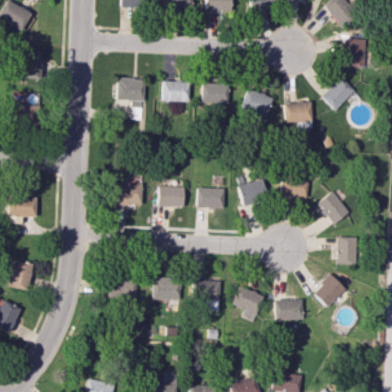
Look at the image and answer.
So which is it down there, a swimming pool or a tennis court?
swimming pool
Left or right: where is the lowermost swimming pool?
right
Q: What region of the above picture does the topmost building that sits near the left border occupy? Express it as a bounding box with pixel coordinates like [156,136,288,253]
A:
[0,0,32,30]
